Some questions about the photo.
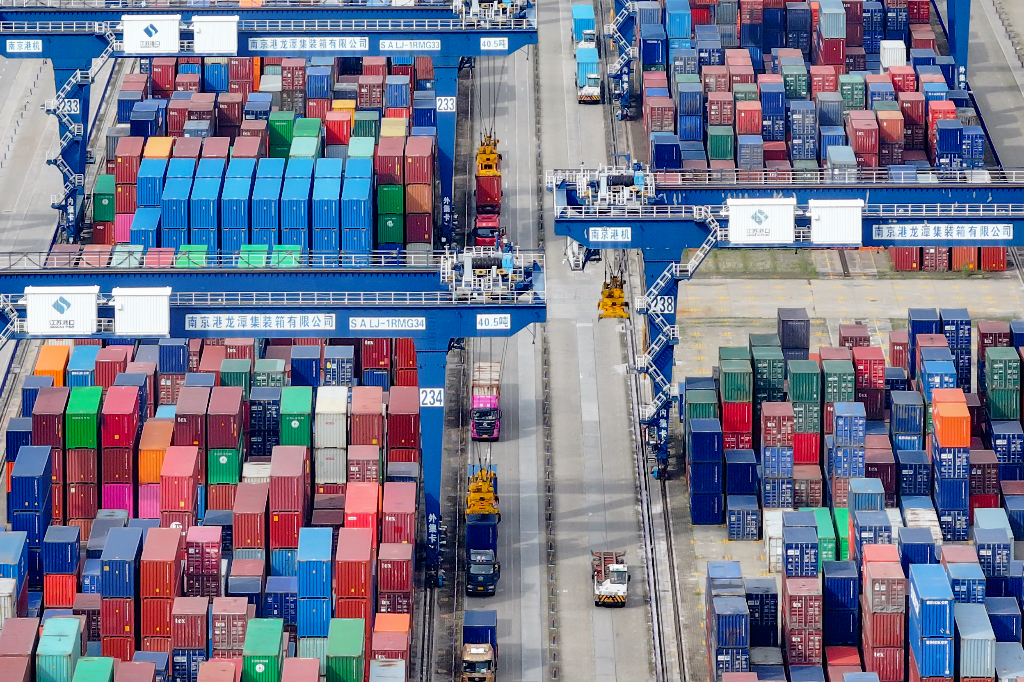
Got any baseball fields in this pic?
No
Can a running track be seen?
No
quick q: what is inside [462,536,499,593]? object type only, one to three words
truck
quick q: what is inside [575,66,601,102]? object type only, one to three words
work vehicle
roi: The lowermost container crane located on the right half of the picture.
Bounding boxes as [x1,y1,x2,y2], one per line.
[554,146,1024,482]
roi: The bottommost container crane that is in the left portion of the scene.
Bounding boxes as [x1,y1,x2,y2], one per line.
[0,229,548,589]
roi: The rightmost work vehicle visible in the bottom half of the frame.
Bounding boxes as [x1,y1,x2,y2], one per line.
[590,546,628,604]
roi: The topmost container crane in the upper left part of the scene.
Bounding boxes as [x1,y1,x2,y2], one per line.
[0,0,543,253]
